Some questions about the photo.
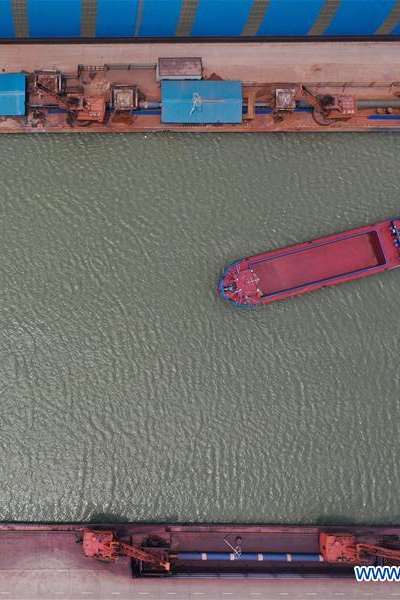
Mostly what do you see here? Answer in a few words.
water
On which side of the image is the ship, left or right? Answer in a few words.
right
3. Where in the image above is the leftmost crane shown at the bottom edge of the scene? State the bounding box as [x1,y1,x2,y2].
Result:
[77,523,171,570]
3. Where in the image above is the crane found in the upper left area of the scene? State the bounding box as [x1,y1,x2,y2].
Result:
[33,80,106,125]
